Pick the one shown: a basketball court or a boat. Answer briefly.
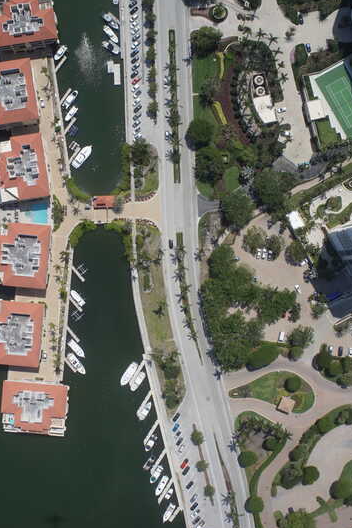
boat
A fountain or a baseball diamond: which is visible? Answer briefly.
fountain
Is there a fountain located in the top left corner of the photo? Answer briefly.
Yes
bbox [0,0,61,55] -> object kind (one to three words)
building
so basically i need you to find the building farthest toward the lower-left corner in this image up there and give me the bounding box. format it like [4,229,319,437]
[2,377,71,436]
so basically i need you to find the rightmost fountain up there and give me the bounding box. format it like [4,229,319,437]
[75,31,110,91]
